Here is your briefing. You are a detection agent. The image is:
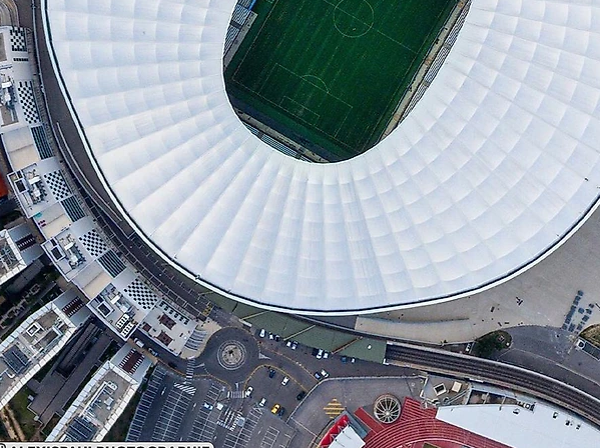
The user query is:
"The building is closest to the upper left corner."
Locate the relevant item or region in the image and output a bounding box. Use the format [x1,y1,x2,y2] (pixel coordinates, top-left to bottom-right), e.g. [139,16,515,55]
[0,26,45,134]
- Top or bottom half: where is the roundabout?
bottom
